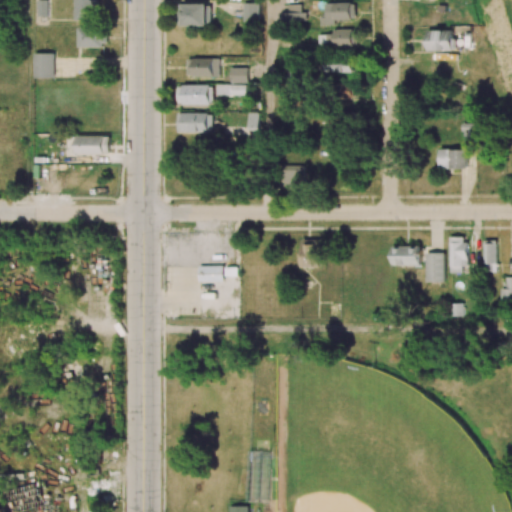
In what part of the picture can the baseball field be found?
bottom right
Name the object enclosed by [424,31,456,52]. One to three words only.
house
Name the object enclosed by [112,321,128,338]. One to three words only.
vehicle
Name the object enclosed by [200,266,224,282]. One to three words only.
building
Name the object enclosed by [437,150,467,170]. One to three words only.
house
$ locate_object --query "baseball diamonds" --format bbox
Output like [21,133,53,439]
[278,356,508,512]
